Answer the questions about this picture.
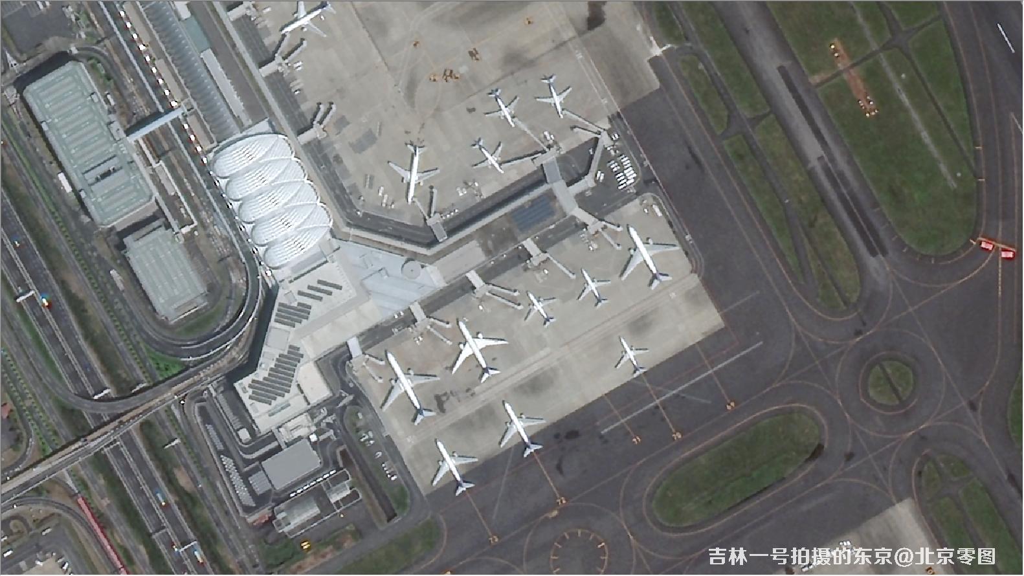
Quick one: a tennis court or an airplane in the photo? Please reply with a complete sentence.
The image shows an airplane.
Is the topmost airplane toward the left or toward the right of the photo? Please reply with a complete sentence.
It is on the left.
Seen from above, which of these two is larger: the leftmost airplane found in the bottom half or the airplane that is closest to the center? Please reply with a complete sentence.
Compared with the airplane that is closest to the center, the leftmost airplane found in the bottom half is the larger one.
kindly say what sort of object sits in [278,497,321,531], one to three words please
building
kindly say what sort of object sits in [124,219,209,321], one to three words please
building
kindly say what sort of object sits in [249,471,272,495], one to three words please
shed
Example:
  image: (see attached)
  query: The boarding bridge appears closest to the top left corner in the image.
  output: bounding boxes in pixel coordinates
[228,0,259,20]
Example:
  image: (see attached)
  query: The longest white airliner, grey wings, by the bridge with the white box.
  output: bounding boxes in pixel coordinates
[382,352,441,426]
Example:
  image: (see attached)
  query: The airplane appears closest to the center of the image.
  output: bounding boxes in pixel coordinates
[526,292,559,330]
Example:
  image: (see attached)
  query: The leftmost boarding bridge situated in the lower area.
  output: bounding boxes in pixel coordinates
[348,338,387,383]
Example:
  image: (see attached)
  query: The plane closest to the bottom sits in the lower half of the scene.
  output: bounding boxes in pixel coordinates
[433,440,478,497]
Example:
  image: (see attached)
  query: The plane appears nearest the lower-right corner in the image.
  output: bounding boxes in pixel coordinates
[616,337,650,379]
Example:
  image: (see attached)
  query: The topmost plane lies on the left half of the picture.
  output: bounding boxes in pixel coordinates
[281,0,338,37]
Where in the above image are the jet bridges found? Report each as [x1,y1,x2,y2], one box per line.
[412,189,447,241]
[499,118,557,169]
[467,271,523,310]
[588,219,623,250]
[409,301,452,345]
[524,239,576,280]
[348,338,387,383]
[228,0,259,20]
[562,109,614,146]
[260,33,307,77]
[298,104,337,144]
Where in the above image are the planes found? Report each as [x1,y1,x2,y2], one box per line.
[502,401,546,459]
[472,136,503,173]
[388,142,440,204]
[382,352,441,426]
[281,0,338,37]
[454,322,510,386]
[622,226,682,292]
[484,86,518,127]
[526,292,559,330]
[535,73,571,118]
[433,440,478,497]
[578,269,611,309]
[616,337,650,379]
